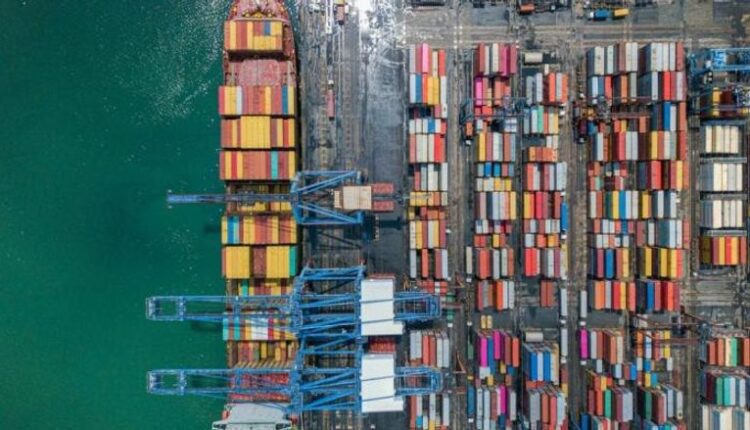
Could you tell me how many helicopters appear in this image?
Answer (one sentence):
No helicopters are visible.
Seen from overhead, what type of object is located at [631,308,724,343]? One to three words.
container crane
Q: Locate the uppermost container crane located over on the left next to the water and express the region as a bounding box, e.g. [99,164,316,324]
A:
[168,170,406,231]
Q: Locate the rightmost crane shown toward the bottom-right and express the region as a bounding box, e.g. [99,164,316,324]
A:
[691,308,750,344]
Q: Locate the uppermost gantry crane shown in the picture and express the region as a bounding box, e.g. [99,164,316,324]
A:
[686,44,750,86]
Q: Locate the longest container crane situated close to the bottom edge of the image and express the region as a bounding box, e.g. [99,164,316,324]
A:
[149,319,440,419]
